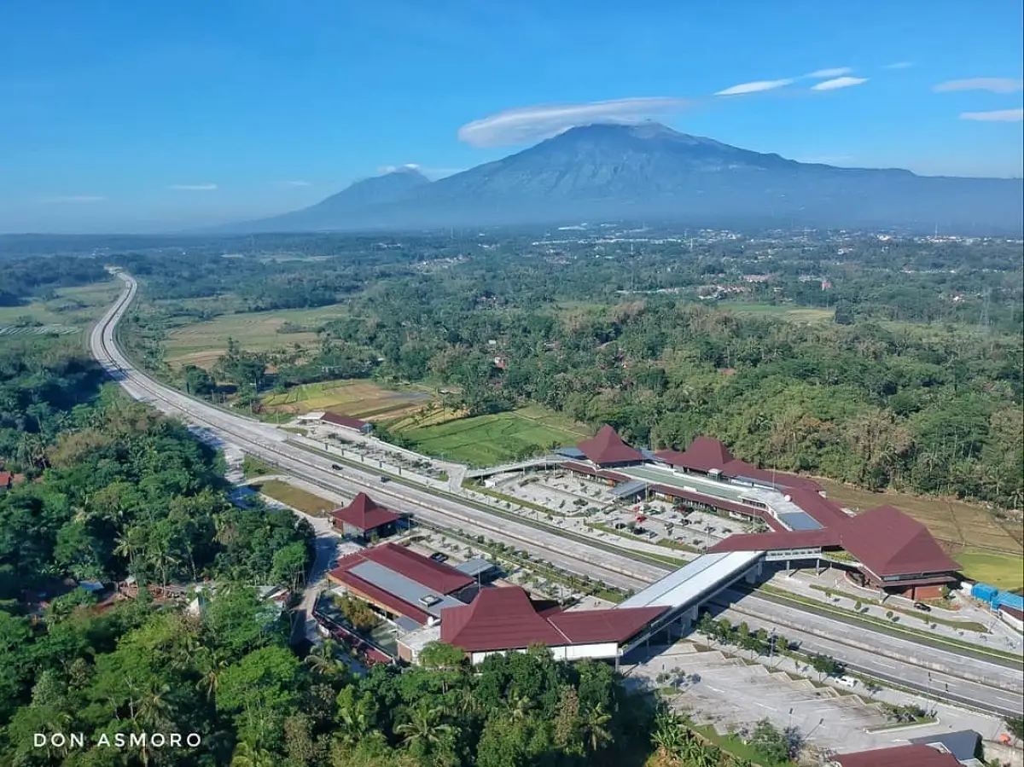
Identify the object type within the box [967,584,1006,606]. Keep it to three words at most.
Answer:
shed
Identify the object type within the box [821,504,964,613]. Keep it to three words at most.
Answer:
building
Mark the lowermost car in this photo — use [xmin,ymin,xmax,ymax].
[835,672,858,685]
